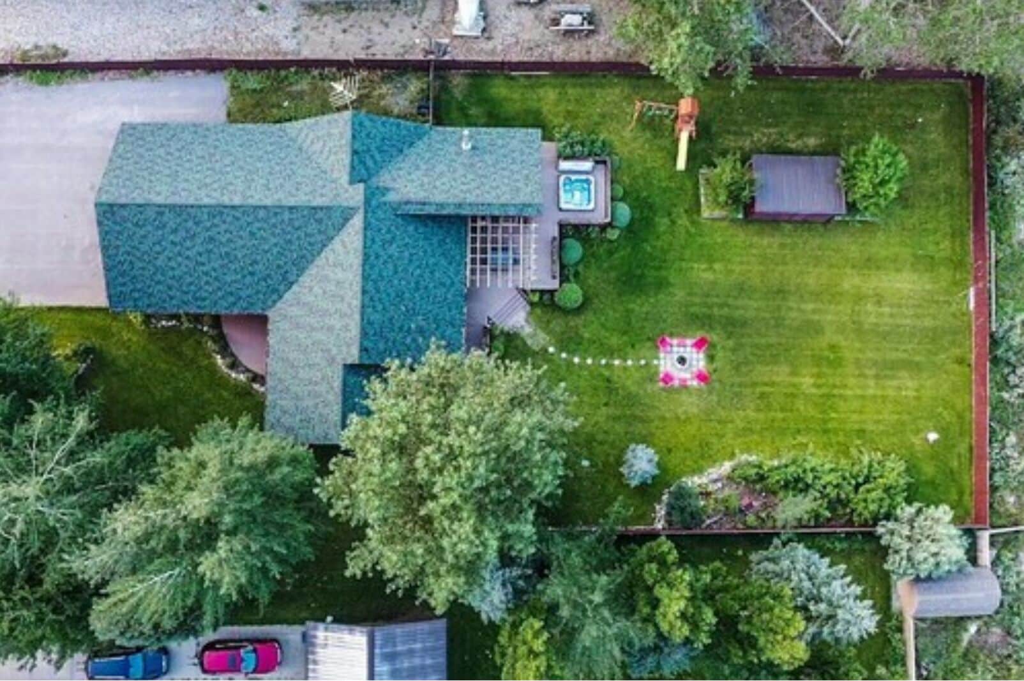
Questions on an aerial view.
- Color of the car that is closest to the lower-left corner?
blue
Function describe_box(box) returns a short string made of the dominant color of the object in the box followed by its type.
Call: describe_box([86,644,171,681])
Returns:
blue car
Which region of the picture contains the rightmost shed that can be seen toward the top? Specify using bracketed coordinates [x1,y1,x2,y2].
[744,155,848,221]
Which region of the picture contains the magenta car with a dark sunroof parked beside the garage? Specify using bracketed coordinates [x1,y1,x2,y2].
[200,638,283,681]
